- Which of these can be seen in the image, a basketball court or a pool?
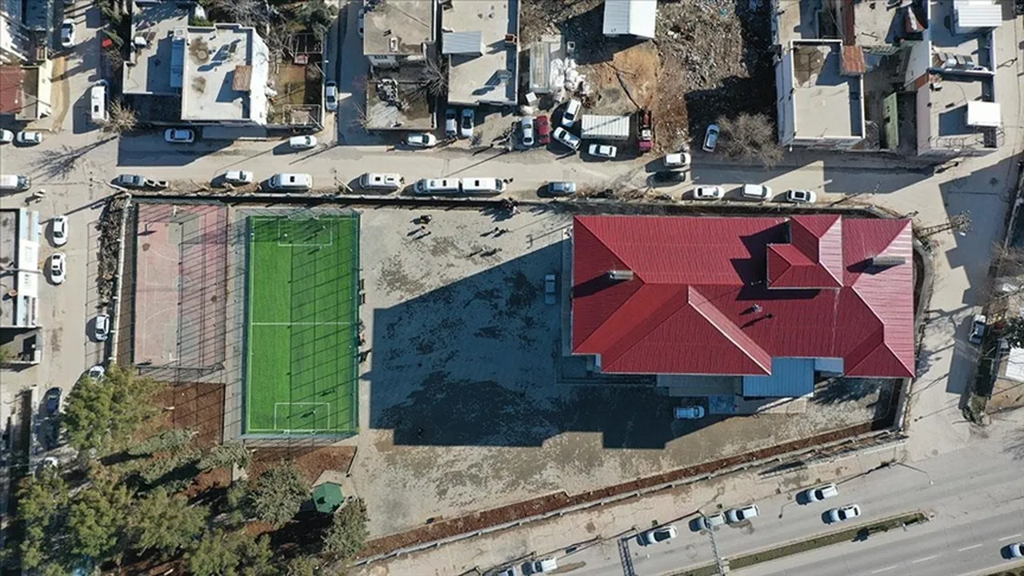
basketball court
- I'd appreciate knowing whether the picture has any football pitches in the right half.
No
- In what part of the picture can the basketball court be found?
left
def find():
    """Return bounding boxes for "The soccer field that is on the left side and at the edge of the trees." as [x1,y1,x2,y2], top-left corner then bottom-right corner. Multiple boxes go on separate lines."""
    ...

[244,214,359,435]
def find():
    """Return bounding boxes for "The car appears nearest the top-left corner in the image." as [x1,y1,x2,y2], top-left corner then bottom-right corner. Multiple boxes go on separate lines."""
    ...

[60,18,78,49]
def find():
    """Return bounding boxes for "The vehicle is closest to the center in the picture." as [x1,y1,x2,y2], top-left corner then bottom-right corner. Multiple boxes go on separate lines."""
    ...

[543,274,557,305]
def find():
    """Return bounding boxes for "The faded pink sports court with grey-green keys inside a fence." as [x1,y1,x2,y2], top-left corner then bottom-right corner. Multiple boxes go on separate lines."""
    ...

[132,204,227,365]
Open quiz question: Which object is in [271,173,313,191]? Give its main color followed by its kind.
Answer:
white vehicle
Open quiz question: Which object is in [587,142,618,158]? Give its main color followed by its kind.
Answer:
white car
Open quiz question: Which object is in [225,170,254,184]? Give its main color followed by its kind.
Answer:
white car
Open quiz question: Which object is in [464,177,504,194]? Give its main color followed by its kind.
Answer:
white vehicle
